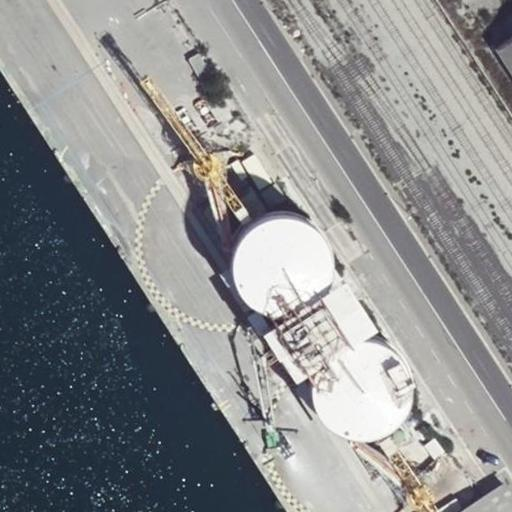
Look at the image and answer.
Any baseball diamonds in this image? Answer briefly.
No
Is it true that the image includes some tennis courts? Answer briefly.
No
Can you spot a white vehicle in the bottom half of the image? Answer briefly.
No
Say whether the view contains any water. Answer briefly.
Yes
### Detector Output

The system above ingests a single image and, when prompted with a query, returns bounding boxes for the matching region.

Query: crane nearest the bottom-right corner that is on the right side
[353,443,460,512]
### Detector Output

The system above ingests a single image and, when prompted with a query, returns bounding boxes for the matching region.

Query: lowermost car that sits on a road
[478,450,500,465]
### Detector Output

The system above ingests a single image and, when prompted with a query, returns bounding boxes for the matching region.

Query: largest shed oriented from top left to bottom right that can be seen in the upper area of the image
[242,153,292,212]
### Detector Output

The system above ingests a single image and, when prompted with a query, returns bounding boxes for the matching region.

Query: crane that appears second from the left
[241,338,299,458]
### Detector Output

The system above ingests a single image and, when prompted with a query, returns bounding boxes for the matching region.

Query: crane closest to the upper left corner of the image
[137,73,248,241]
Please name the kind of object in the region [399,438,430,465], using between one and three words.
building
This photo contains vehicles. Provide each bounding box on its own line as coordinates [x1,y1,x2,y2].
[478,450,500,465]
[192,96,219,127]
[178,108,198,134]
